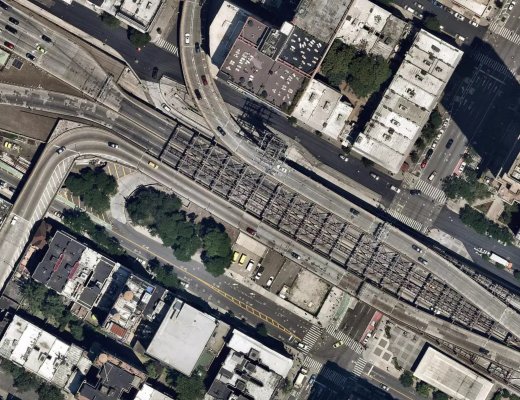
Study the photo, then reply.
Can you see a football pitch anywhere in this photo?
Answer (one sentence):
No, no football pitch is visible in the view.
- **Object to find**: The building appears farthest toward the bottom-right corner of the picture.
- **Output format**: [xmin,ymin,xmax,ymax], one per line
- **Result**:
[412,346,495,400]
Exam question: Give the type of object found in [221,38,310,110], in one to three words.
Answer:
building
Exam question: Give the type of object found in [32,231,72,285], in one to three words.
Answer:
building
